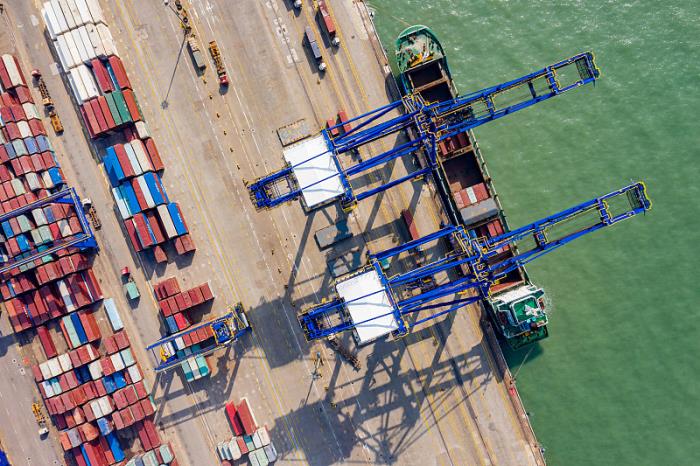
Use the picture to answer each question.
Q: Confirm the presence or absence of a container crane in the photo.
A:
Yes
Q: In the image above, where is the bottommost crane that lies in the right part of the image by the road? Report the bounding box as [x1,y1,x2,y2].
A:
[292,180,656,346]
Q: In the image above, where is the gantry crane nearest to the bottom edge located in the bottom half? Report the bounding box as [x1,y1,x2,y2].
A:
[145,299,256,374]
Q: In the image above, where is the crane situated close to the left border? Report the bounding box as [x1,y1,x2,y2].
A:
[0,185,105,275]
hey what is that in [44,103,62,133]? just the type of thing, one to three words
vehicle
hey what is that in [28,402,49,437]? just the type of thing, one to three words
vehicle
